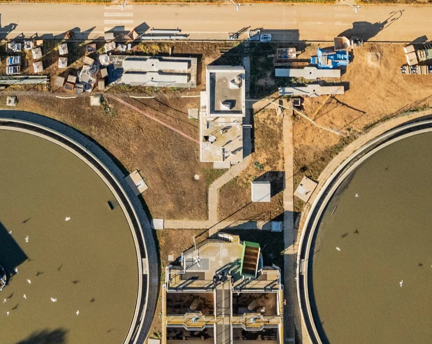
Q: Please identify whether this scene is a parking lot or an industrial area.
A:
industrial area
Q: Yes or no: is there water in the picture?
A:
Yes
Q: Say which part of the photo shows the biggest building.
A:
top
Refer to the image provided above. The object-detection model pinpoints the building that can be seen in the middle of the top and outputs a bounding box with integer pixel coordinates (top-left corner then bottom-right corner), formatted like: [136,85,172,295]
[200,66,246,117]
